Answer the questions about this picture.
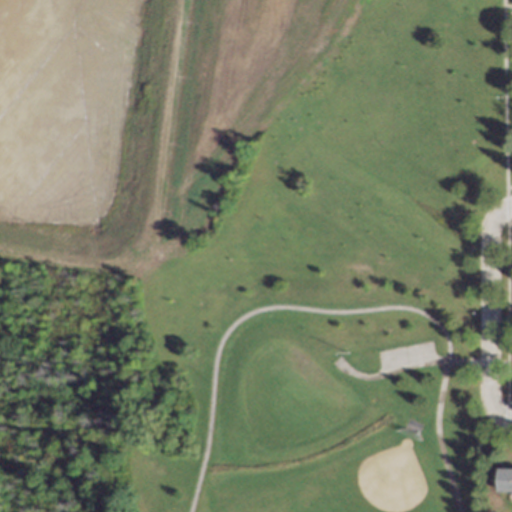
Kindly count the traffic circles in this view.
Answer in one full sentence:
I count no traffic circles.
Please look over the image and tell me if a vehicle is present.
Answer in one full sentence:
No, the picture doesn't show any vehicle.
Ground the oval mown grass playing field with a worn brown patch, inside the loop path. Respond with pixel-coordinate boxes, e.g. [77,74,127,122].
[245,337,372,447]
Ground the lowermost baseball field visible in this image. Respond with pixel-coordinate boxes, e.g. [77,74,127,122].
[358,438,428,512]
